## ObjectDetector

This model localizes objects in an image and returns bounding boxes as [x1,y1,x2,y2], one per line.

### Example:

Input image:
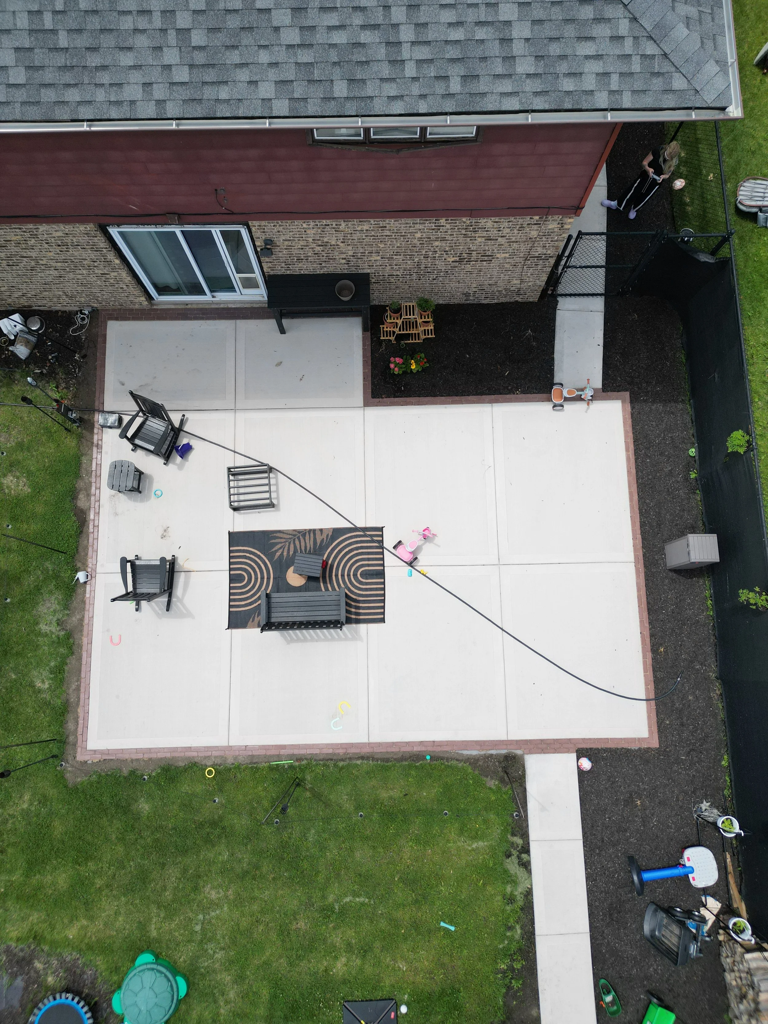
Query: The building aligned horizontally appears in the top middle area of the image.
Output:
[0,0,745,314]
